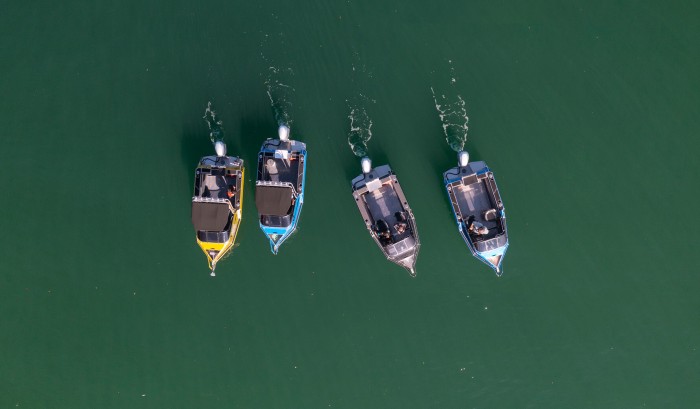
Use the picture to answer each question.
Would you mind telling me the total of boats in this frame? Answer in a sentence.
The number of boats here is 4.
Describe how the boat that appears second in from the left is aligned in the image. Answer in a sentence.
The boat that appears second in from the left is laid out from top to bottom.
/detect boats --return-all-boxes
[254,122,306,256]
[191,140,245,275]
[351,155,418,277]
[444,150,509,276]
